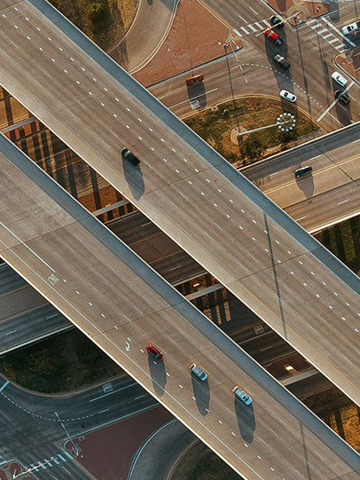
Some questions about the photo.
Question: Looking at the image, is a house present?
No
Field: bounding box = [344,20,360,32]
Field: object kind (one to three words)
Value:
vehicle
